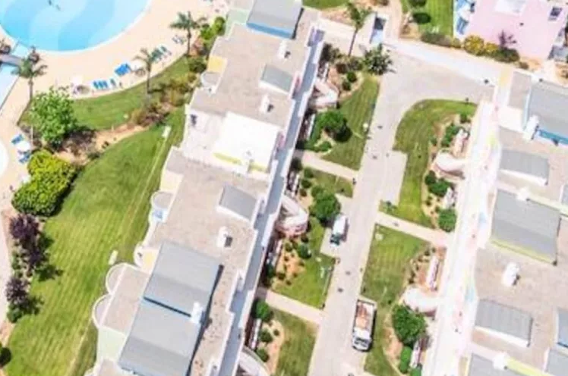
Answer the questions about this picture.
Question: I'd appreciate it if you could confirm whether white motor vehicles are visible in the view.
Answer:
Yes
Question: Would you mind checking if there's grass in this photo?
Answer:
Yes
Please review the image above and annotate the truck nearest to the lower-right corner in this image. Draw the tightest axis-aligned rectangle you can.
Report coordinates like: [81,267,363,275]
[351,294,381,349]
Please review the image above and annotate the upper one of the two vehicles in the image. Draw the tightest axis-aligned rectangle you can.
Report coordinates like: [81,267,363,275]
[327,207,354,245]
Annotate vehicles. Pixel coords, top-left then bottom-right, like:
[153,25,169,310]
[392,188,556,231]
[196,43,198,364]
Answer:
[351,294,381,349]
[327,207,354,245]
